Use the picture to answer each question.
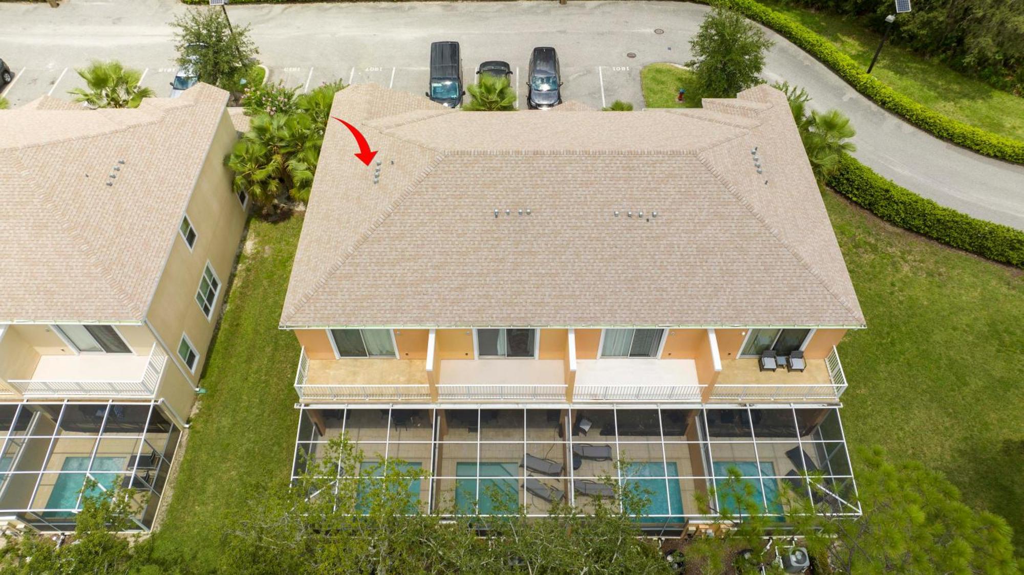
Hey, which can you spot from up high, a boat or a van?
van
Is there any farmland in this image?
No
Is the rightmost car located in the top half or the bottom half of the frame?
top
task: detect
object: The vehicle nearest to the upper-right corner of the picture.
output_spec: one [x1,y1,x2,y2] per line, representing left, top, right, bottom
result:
[525,50,566,111]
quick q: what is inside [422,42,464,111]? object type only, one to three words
van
